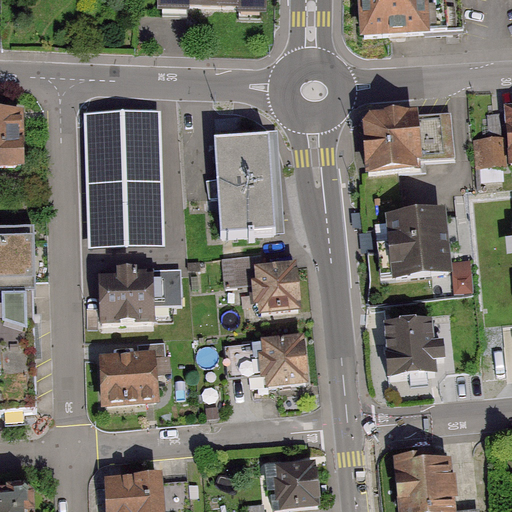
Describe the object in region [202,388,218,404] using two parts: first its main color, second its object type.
white umbrella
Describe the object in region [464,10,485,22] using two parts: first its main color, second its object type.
white vehicle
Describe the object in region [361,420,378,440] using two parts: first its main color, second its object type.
white work vehicle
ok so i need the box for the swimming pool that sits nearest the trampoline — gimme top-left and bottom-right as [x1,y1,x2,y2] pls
[196,346,219,370]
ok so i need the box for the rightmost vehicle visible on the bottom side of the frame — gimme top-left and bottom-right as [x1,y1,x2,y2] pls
[494,348,506,380]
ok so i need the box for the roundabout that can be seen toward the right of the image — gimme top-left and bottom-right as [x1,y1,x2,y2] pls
[268,47,358,134]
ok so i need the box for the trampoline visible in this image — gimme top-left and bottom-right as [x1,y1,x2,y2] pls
[220,310,240,330]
